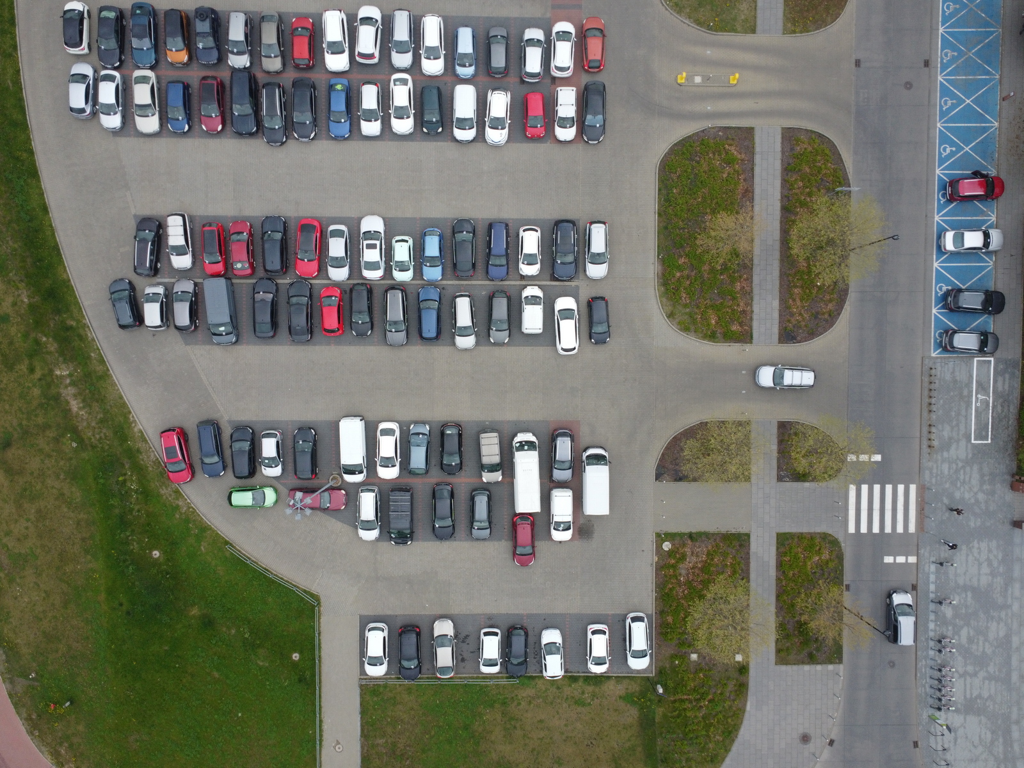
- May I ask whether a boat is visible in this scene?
No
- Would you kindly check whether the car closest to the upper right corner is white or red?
red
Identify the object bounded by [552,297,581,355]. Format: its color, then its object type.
white car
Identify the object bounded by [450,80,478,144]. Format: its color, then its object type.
white van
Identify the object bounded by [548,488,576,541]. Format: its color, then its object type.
white van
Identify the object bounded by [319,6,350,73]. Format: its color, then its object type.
white car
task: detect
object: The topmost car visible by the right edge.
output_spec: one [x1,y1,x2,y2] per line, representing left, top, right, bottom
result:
[948,167,1005,203]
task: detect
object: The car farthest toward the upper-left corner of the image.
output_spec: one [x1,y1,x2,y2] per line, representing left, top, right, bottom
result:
[57,0,92,55]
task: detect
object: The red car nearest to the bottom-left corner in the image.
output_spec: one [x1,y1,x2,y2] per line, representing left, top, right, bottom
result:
[158,426,194,484]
